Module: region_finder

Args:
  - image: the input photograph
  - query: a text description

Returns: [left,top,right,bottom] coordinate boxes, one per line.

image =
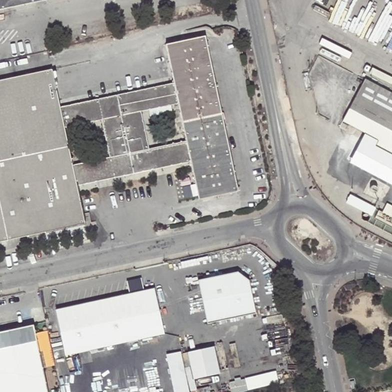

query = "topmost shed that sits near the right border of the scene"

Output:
[349,77,392,130]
